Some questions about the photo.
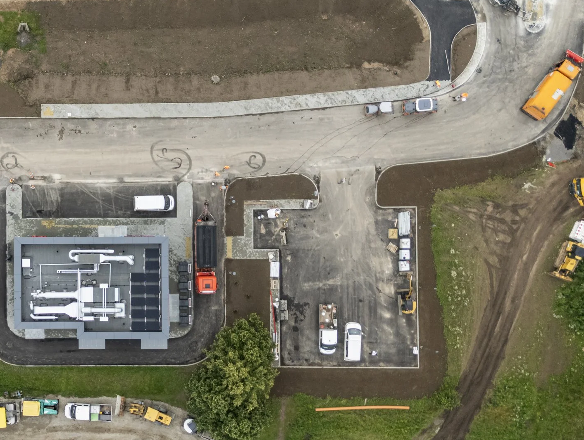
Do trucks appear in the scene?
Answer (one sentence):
Yes, the image includes a truck.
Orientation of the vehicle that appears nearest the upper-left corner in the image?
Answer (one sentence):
In this picture, the vehicle that appears nearest the upper-left corner is oriented from left to right.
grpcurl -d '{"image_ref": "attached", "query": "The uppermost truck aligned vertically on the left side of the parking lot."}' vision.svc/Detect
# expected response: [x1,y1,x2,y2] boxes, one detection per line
[193,195,219,295]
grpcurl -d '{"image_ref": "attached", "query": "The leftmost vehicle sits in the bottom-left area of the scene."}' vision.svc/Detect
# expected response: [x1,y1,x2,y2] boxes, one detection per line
[66,403,112,423]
